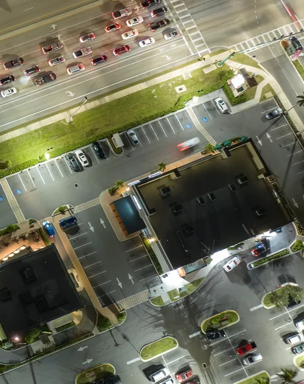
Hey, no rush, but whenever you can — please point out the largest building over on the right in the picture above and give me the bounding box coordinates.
[111,139,293,276]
